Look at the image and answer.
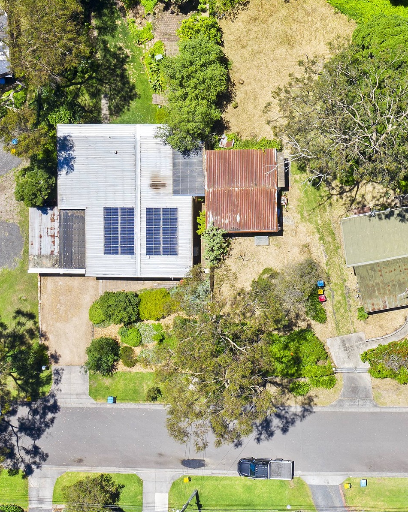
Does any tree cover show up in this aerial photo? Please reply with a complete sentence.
Yes, tree cover can be seen from above here.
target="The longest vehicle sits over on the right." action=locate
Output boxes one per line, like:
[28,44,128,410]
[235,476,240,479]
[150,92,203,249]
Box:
[234,456,293,481]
